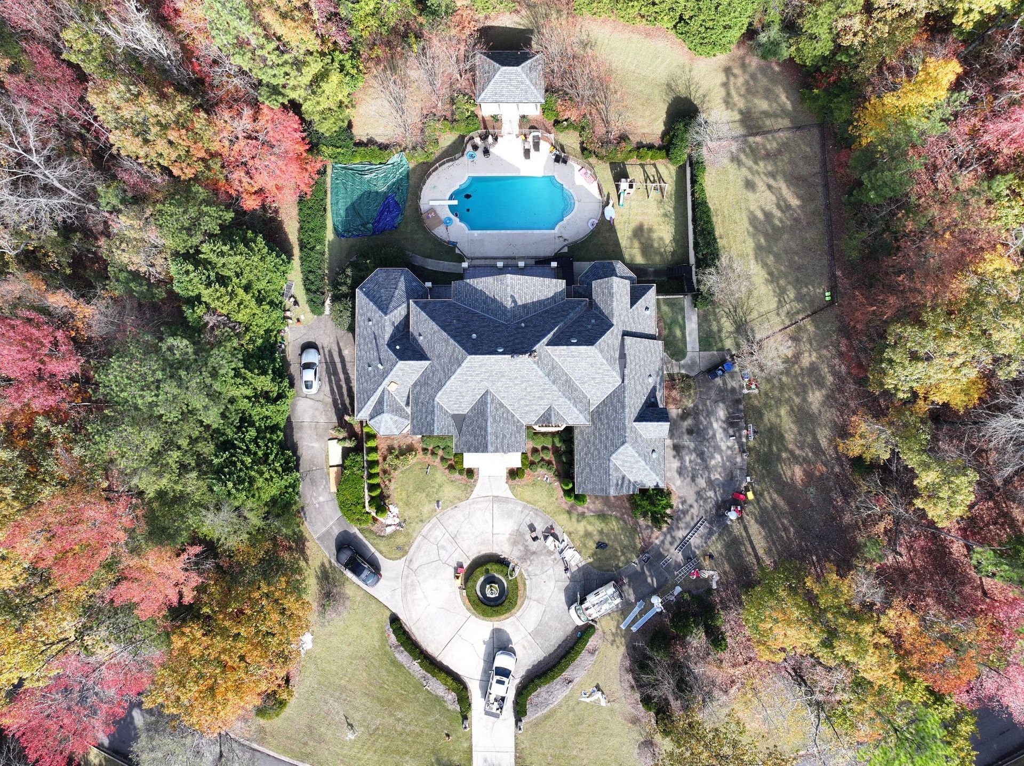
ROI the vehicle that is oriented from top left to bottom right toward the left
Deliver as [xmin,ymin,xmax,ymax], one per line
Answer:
[338,546,381,588]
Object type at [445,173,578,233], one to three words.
swimming pool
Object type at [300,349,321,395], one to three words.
car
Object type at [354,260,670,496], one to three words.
house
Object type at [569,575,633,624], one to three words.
van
